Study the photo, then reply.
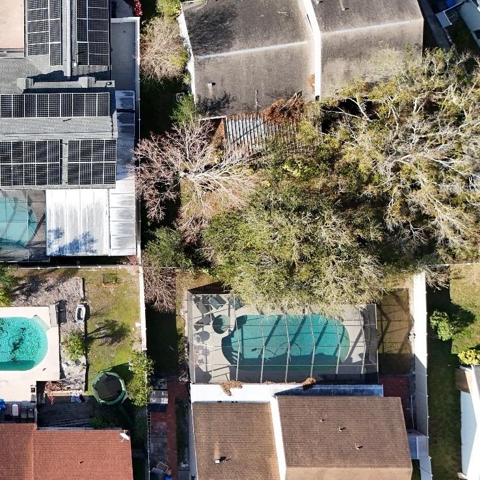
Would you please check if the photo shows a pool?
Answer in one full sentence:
Yes, the image includes a pool.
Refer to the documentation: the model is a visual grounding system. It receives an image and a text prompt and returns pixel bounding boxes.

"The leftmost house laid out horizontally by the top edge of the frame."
[176,0,425,119]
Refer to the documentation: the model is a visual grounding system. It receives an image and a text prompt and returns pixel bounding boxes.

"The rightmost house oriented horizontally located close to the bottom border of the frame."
[186,384,419,480]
